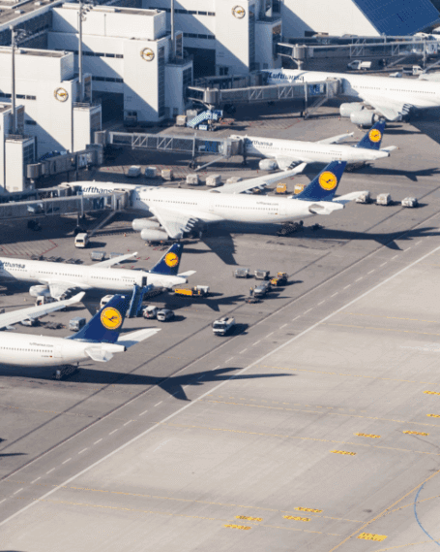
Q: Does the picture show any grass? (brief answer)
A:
No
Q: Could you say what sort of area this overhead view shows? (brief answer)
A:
airport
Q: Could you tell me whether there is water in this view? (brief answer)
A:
No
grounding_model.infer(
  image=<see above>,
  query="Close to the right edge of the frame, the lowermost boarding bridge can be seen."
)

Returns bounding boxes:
[270,35,437,69]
